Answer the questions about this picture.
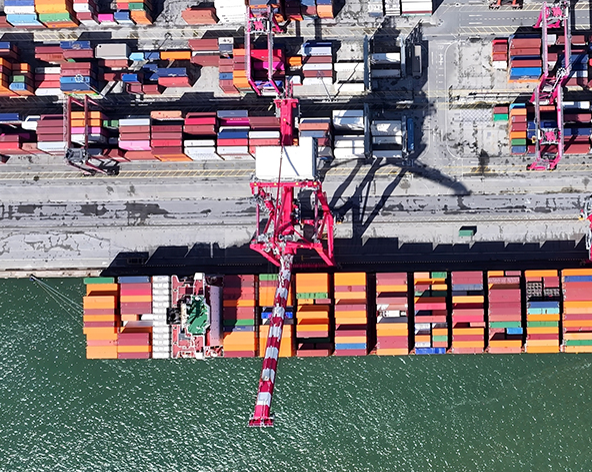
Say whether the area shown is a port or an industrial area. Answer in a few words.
port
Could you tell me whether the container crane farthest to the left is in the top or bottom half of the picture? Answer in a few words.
top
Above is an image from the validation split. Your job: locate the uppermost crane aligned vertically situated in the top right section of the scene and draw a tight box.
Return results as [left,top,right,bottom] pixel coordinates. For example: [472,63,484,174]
[529,3,572,95]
